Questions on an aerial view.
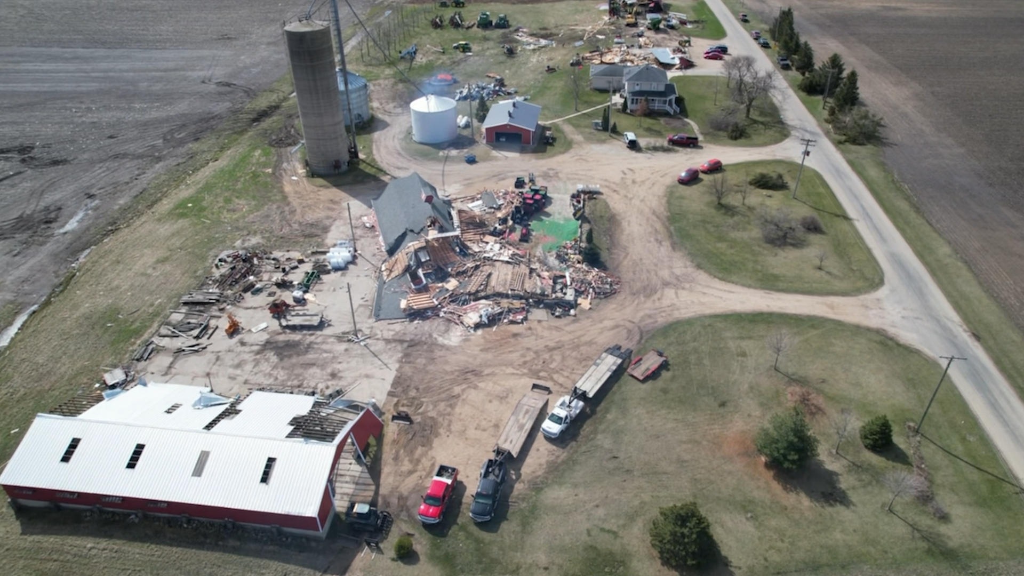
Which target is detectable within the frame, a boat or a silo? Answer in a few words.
silo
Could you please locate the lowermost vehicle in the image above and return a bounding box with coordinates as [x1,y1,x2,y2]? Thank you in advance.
[342,504,404,544]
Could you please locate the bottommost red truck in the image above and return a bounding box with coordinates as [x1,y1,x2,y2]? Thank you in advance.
[418,462,460,525]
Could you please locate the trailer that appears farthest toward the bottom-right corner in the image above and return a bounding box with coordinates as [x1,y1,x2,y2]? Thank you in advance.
[627,348,669,379]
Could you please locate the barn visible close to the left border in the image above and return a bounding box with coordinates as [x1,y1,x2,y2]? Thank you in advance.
[0,378,383,540]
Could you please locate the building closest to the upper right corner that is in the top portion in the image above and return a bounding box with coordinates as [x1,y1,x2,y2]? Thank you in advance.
[587,64,686,116]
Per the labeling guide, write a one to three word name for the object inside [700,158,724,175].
car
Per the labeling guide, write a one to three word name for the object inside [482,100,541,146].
building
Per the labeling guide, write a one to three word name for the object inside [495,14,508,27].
vehicle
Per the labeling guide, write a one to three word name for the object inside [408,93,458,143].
silo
